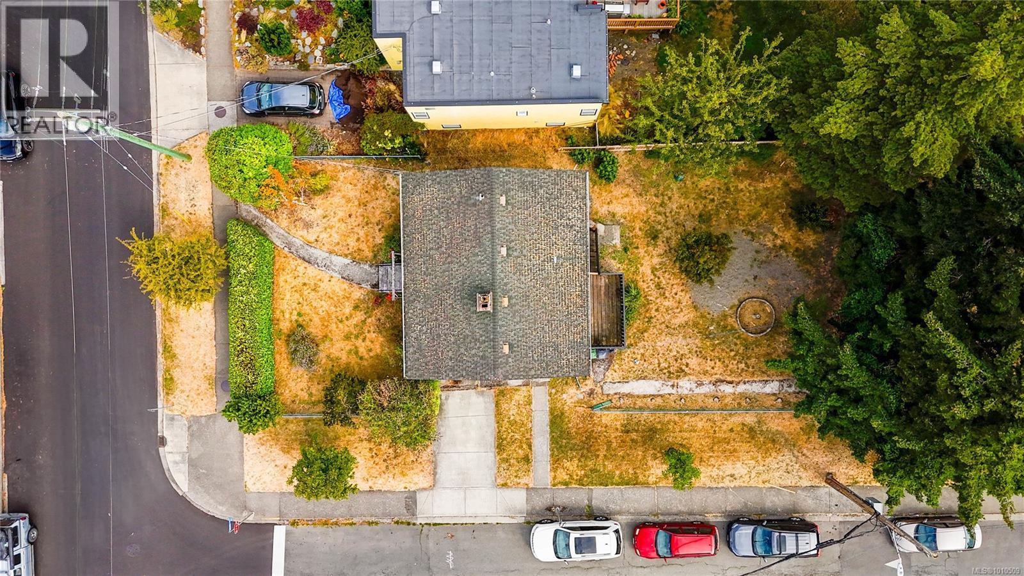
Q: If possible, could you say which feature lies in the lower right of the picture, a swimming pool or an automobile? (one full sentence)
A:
Visible in the lower right of the picture is an automobile.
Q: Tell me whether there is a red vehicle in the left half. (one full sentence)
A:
No, there is no red vehicle in the left half.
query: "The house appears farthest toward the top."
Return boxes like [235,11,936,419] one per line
[372,0,636,130]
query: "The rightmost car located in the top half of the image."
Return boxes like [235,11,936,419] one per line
[241,75,327,120]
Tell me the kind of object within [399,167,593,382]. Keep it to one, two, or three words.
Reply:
house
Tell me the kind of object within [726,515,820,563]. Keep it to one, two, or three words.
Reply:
car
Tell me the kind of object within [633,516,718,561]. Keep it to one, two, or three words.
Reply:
car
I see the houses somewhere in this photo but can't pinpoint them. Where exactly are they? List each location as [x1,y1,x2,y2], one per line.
[372,0,636,130]
[399,167,593,382]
